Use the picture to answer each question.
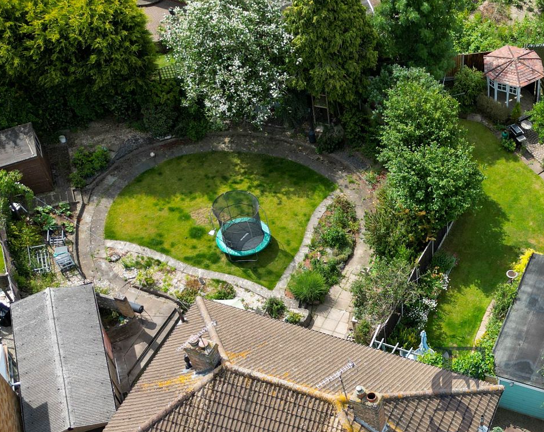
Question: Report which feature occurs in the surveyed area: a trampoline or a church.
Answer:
trampoline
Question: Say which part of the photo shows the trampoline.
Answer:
center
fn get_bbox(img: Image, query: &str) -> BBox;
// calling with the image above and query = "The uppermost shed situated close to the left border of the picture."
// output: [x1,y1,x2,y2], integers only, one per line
[0,131,49,208]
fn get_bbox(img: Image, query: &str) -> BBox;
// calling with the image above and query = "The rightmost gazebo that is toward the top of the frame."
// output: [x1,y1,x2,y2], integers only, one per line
[477,49,538,114]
